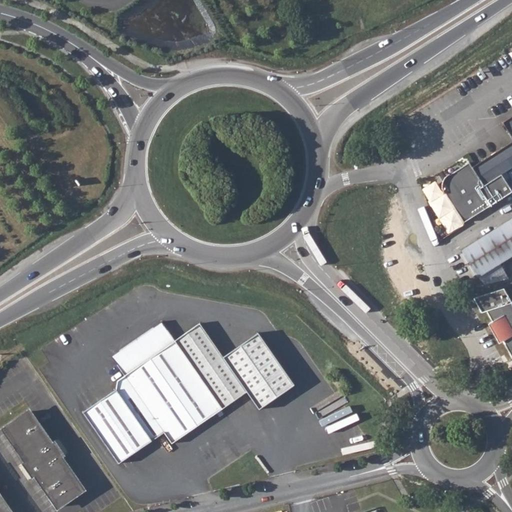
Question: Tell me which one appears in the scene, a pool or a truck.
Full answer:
The one in the frame is a truck.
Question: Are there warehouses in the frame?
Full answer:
Yes, this view includes a warehouse.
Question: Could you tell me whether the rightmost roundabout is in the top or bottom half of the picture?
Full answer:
It is in the bottom half that the rightmost roundabout appears.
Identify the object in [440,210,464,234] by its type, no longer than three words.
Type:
tent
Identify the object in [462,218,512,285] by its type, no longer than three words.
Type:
building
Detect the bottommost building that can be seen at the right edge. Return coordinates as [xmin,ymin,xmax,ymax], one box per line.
[474,289,512,360]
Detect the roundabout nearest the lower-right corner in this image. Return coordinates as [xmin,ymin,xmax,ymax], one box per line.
[412,394,504,486]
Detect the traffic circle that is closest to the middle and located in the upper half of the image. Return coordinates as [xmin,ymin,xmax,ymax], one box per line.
[127,66,327,266]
